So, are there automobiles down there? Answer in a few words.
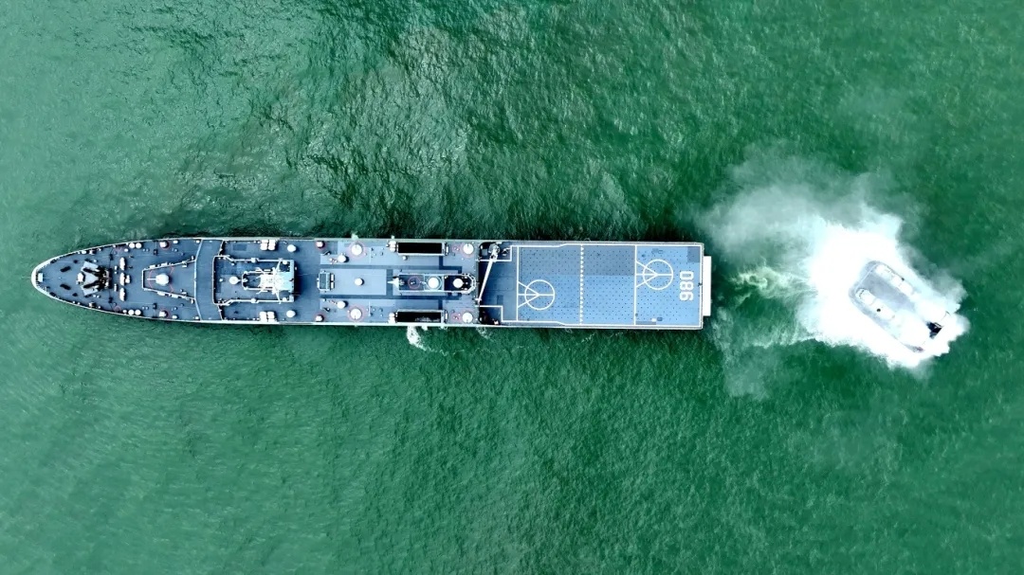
No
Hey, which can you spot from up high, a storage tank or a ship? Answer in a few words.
ship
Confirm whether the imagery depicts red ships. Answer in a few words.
No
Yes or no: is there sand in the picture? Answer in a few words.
No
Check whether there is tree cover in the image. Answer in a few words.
No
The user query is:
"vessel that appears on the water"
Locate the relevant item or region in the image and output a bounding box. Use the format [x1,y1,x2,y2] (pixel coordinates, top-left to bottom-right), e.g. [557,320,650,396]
[23,235,711,331]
